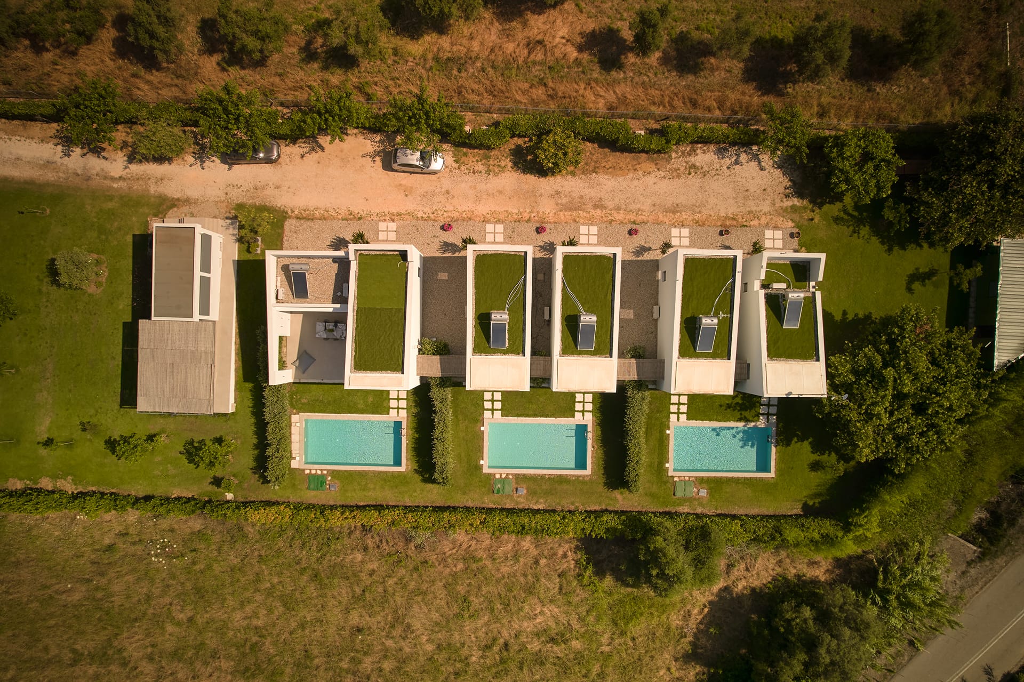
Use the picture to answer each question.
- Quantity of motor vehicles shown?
2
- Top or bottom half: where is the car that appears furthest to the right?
top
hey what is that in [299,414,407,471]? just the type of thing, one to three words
swimming pool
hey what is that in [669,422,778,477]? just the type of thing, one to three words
swimming pool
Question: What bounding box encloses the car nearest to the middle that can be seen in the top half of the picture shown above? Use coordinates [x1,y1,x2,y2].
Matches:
[391,148,445,175]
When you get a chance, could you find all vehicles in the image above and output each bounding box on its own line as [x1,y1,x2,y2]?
[225,137,282,166]
[391,148,445,175]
